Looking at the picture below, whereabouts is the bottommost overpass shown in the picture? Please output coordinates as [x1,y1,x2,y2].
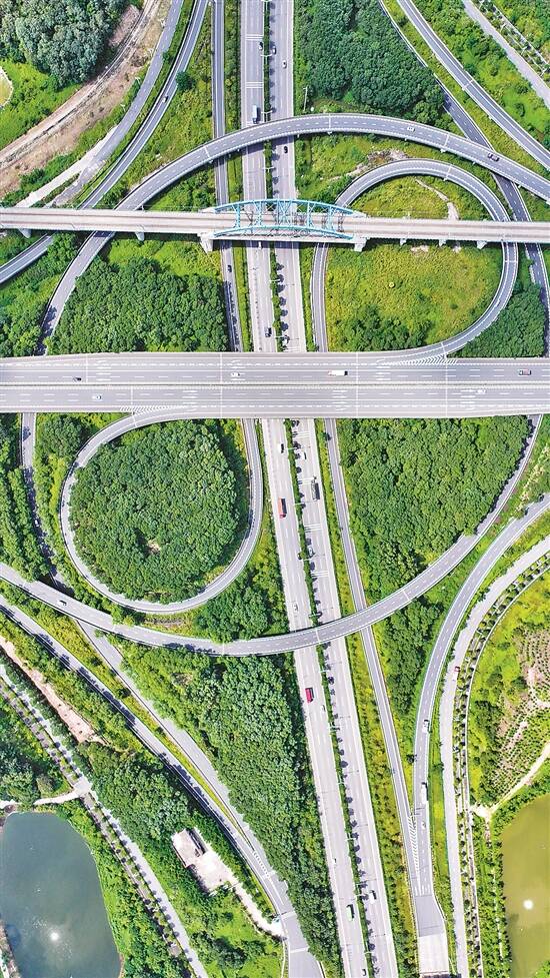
[0,448,534,657]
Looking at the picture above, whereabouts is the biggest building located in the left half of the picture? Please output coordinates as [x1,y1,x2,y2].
[173,825,211,867]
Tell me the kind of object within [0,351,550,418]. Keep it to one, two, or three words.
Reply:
bridge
